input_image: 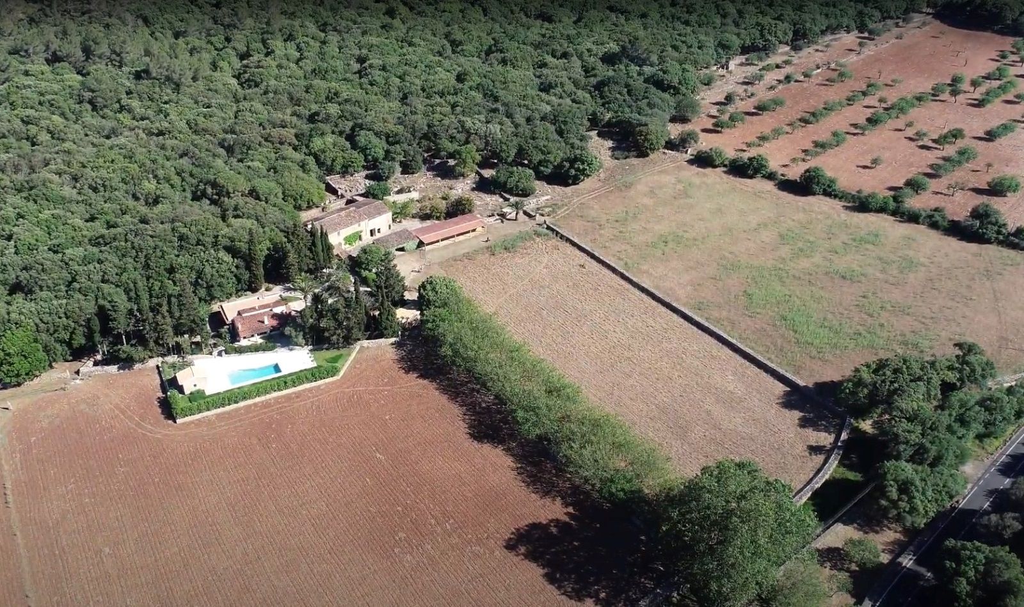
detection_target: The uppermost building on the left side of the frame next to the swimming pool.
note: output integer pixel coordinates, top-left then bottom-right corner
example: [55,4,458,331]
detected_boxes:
[219,291,299,357]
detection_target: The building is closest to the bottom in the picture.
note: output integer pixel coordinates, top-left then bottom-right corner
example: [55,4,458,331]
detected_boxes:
[180,366,210,394]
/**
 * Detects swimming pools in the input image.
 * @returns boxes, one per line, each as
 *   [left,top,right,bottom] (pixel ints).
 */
[227,363,283,386]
